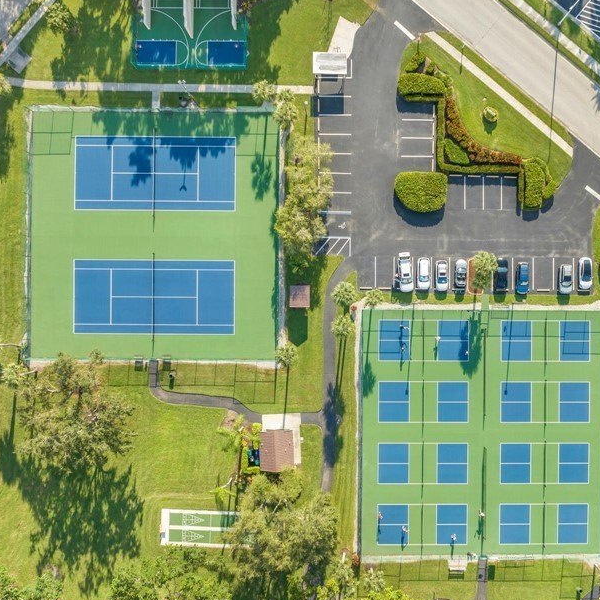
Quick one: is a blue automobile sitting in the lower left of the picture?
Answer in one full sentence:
No, I can find no blue automobile in the lower left of the picture.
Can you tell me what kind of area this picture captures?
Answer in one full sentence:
The area seen from above is a sports ground.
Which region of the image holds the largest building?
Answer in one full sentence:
The largest building is in the bottom part of the image.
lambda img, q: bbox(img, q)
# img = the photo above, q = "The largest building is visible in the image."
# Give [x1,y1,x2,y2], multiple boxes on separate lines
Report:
[259,432,295,473]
